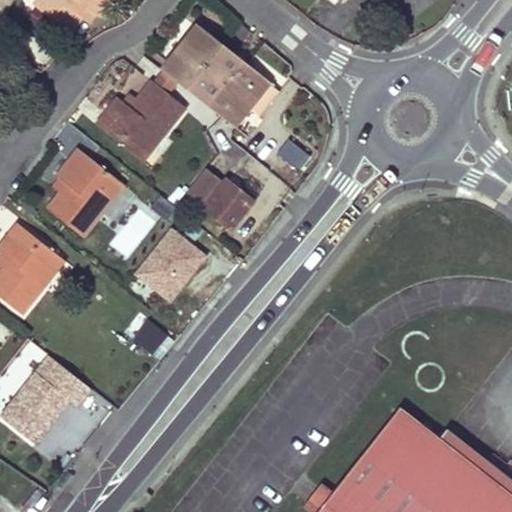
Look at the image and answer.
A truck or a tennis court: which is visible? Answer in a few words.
truck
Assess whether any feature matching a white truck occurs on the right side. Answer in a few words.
Yes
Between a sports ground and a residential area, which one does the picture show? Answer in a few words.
residential area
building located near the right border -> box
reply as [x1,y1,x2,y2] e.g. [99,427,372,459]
[318,408,512,512]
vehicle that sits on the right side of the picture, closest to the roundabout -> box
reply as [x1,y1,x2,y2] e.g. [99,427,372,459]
[390,76,410,94]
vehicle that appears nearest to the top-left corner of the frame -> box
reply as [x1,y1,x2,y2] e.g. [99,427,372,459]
[10,170,27,192]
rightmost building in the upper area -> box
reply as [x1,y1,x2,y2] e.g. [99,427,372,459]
[277,137,312,170]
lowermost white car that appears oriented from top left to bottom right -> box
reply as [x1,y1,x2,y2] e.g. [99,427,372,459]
[261,485,282,503]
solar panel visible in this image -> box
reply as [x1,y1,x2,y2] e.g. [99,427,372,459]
[72,190,110,232]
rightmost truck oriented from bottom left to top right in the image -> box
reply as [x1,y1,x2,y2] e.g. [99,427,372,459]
[468,30,501,72]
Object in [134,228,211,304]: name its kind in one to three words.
house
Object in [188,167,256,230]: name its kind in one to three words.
house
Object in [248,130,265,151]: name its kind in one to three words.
car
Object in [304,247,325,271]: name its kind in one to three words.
vehicle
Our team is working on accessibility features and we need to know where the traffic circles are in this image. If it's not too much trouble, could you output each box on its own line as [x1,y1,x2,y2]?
[385,92,438,145]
